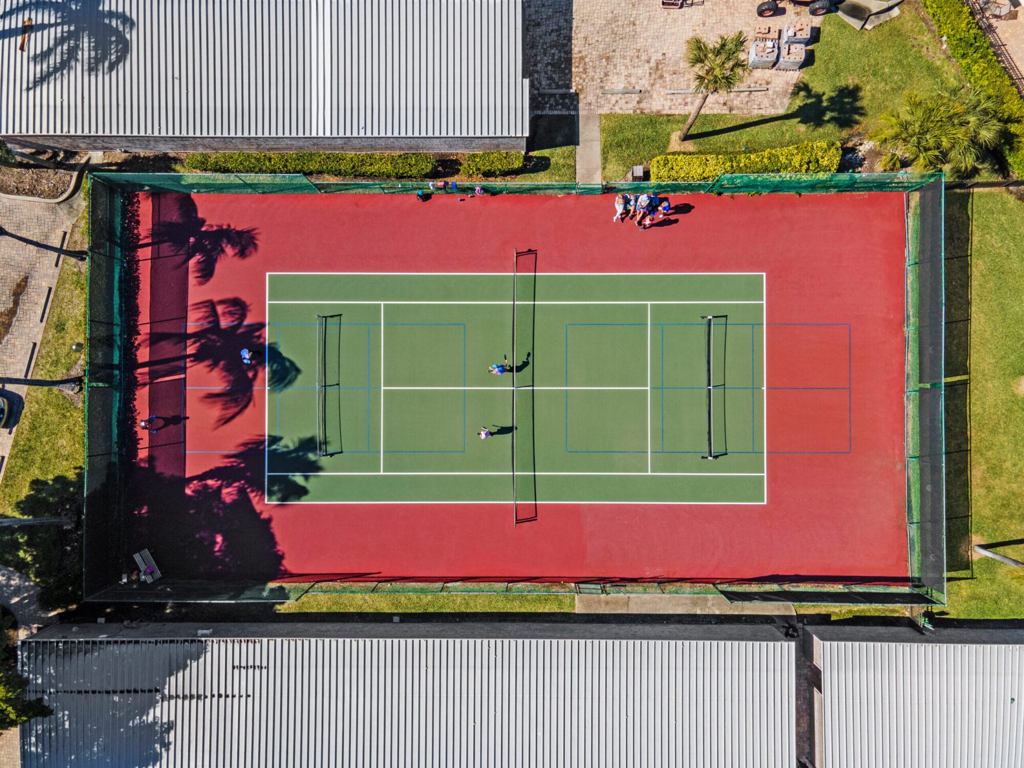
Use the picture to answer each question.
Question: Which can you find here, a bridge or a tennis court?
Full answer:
I can see a tennis court in this picture.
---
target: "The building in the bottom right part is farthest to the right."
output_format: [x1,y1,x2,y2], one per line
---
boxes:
[801,630,1024,768]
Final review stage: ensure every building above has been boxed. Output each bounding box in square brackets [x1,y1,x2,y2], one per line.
[801,630,1024,768]
[16,627,798,768]
[0,0,529,156]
